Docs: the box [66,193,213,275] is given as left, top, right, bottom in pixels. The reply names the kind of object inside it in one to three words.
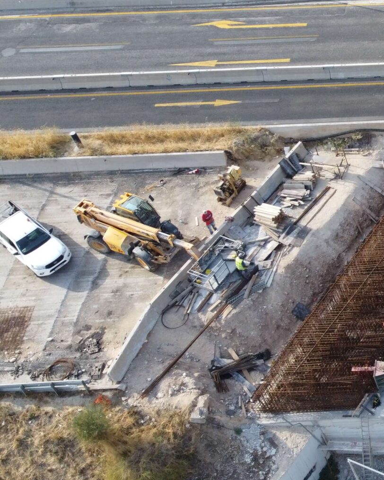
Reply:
work vehicle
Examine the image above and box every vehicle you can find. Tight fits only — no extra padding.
[66,193,213,275]
[0,202,69,280]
